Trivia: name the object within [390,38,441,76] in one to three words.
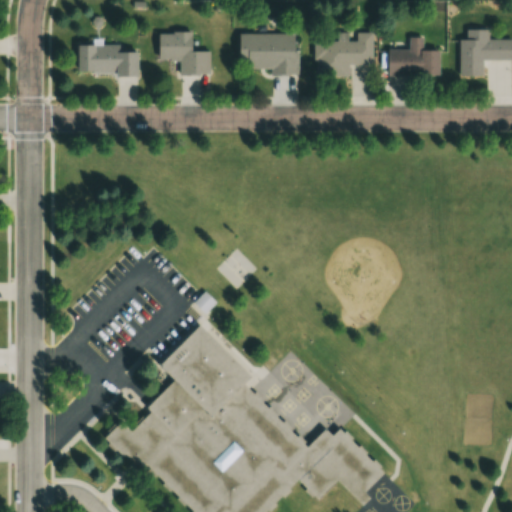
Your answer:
house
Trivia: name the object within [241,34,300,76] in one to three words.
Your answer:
house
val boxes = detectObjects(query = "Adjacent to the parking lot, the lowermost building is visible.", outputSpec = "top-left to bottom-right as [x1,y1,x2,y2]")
[104,326,386,512]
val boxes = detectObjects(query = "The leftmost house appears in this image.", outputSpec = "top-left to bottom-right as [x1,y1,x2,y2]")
[80,38,140,76]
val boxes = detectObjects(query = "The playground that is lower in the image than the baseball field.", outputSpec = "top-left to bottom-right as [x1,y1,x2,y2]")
[250,351,354,444]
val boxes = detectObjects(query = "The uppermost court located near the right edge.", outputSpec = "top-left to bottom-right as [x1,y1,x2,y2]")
[464,394,494,445]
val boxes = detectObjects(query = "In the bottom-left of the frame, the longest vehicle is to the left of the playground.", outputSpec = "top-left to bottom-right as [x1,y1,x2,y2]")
[102,378,122,396]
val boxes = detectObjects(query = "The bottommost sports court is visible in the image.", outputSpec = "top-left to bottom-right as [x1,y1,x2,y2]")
[358,472,424,512]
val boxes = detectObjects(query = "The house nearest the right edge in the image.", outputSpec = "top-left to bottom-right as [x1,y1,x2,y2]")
[462,29,512,76]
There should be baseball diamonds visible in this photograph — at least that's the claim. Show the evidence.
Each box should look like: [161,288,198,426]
[324,236,402,328]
